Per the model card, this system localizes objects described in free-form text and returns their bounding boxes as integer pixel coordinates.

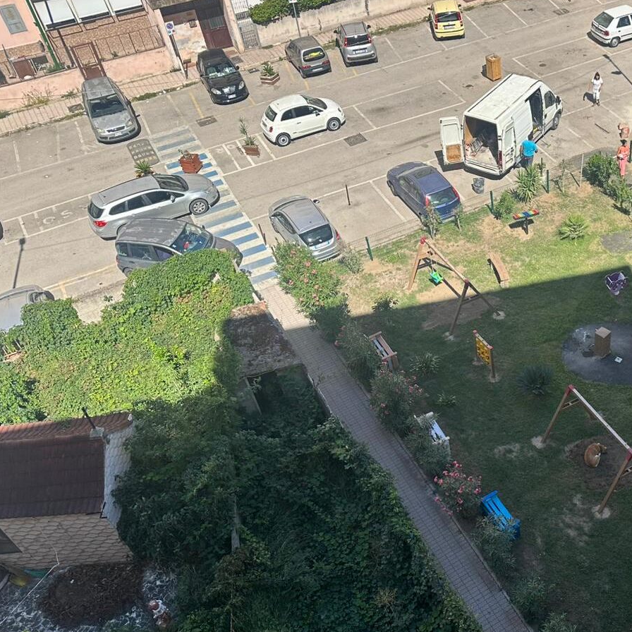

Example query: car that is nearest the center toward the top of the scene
[266,190,349,263]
